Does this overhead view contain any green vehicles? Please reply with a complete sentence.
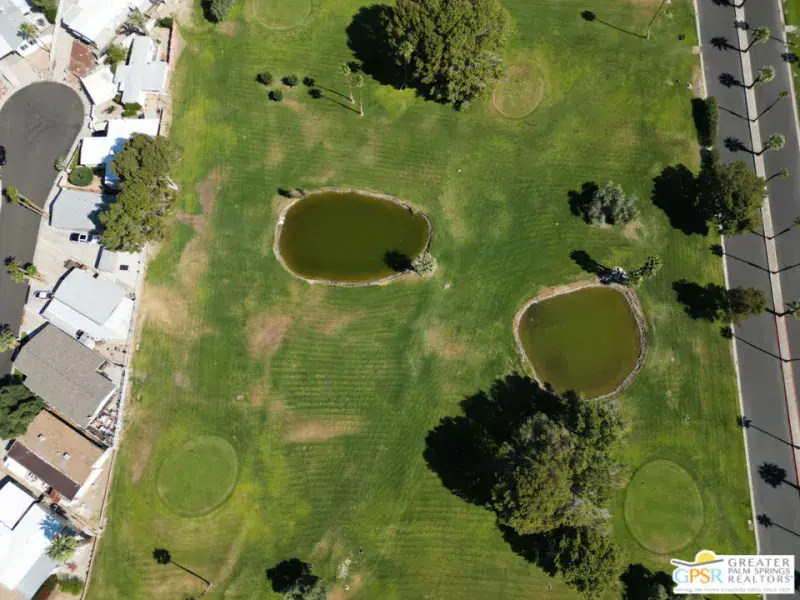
No, the frame has no green vehicle in it.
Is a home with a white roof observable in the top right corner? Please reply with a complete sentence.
No, in the top right corner there is no home with a white roof.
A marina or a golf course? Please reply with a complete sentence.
This image shows a golf course.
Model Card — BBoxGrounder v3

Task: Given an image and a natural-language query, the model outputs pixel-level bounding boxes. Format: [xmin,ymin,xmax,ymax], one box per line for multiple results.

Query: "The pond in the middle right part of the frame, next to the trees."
[516,279,648,405]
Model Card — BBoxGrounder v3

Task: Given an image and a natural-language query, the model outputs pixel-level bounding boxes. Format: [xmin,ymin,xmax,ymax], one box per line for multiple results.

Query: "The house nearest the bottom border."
[0,481,69,600]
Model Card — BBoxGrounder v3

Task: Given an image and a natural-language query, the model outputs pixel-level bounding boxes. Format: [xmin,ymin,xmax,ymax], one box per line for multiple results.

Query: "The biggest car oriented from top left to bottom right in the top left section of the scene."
[66,27,90,46]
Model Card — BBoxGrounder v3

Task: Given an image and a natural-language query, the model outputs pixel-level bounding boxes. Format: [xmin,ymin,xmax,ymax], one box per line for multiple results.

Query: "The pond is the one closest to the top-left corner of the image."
[276,188,432,287]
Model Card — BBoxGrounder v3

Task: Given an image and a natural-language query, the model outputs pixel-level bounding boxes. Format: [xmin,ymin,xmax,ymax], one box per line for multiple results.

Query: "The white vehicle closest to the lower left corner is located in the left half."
[2,457,31,482]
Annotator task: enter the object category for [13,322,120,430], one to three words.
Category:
house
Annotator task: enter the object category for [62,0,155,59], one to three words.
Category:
house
